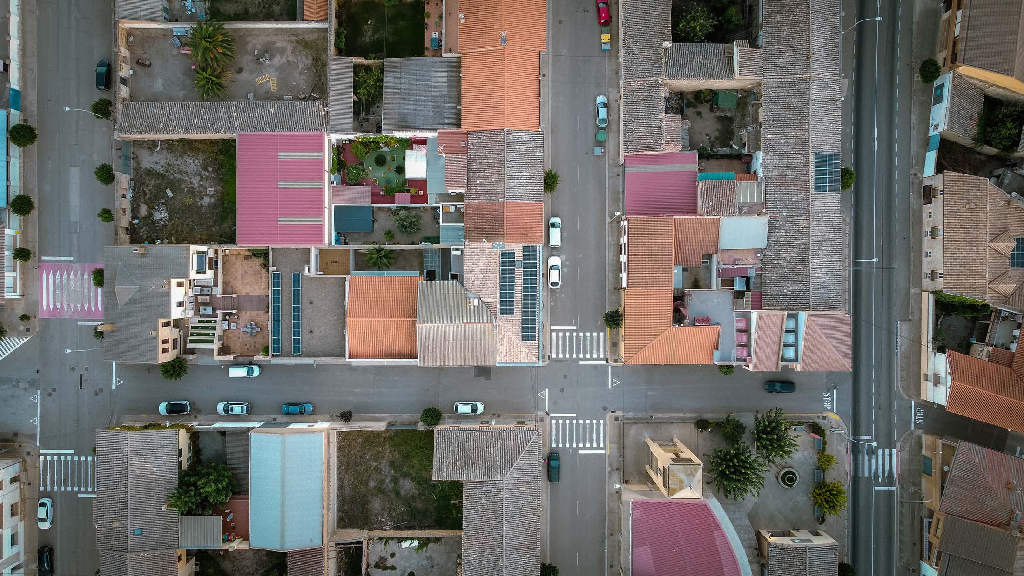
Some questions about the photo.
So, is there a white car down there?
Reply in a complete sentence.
Yes, there's a white car down there.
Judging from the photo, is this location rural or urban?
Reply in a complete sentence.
The area shown here is urban.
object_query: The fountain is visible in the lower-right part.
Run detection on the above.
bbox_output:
[777,467,800,489]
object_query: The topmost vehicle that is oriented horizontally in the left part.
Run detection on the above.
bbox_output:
[227,364,262,378]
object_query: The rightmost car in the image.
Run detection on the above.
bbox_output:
[763,379,795,394]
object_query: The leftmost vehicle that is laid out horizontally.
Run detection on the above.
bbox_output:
[160,400,192,415]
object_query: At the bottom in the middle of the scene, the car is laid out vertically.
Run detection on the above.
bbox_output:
[546,452,561,482]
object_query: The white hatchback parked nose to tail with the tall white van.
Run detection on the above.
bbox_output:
[546,257,562,289]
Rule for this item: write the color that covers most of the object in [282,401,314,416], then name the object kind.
blue car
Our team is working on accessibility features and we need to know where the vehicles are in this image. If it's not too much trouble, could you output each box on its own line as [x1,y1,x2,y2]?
[547,216,562,247]
[454,401,484,416]
[227,364,262,378]
[595,0,611,27]
[218,401,252,416]
[594,96,609,127]
[546,452,561,482]
[95,61,113,91]
[160,400,192,415]
[282,401,314,416]
[37,545,56,576]
[37,496,56,528]
[546,257,562,289]
[763,379,795,394]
